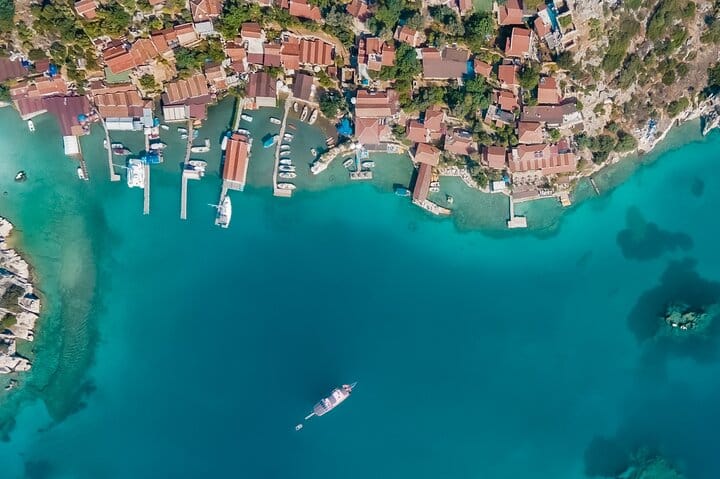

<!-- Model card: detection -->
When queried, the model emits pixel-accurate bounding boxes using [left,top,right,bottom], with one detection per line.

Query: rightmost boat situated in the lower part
[307,385,357,421]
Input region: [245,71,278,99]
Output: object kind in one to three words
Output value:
building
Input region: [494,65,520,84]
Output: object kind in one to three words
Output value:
house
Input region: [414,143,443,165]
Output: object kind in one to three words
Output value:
building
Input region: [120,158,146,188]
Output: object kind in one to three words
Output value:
boat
